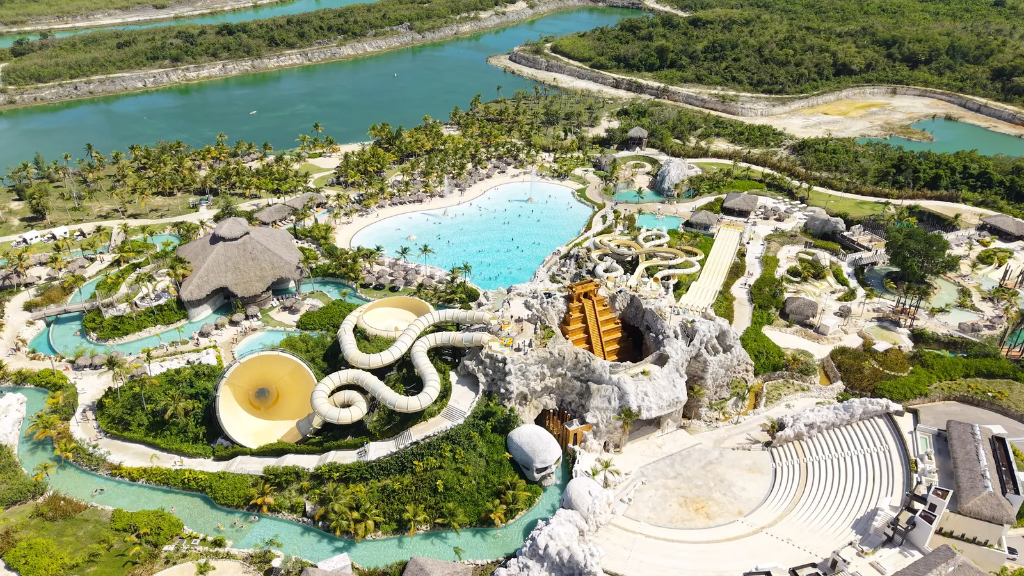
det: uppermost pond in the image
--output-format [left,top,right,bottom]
[856,120,1024,169]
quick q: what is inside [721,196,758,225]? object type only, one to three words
shed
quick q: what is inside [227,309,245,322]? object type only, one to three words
umbrella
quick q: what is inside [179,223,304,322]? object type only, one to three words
building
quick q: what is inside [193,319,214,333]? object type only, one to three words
umbrella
